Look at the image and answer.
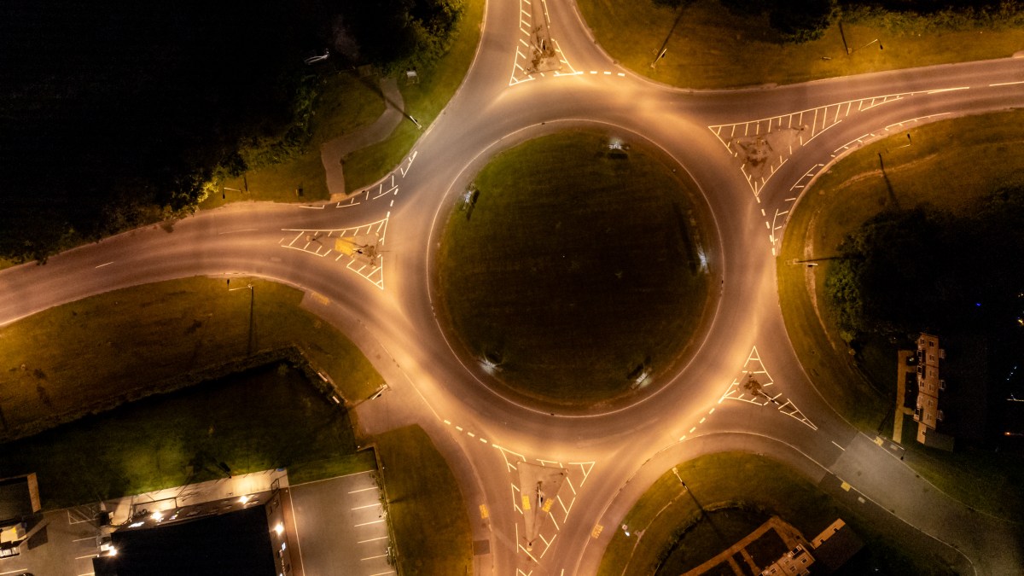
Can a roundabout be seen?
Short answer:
Yes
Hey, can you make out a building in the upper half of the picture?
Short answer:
No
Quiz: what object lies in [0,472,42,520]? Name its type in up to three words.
building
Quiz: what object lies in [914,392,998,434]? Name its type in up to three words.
house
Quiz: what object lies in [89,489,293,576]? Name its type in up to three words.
building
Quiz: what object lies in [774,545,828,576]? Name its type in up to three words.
house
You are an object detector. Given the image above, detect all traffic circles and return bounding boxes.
[379,72,771,464]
